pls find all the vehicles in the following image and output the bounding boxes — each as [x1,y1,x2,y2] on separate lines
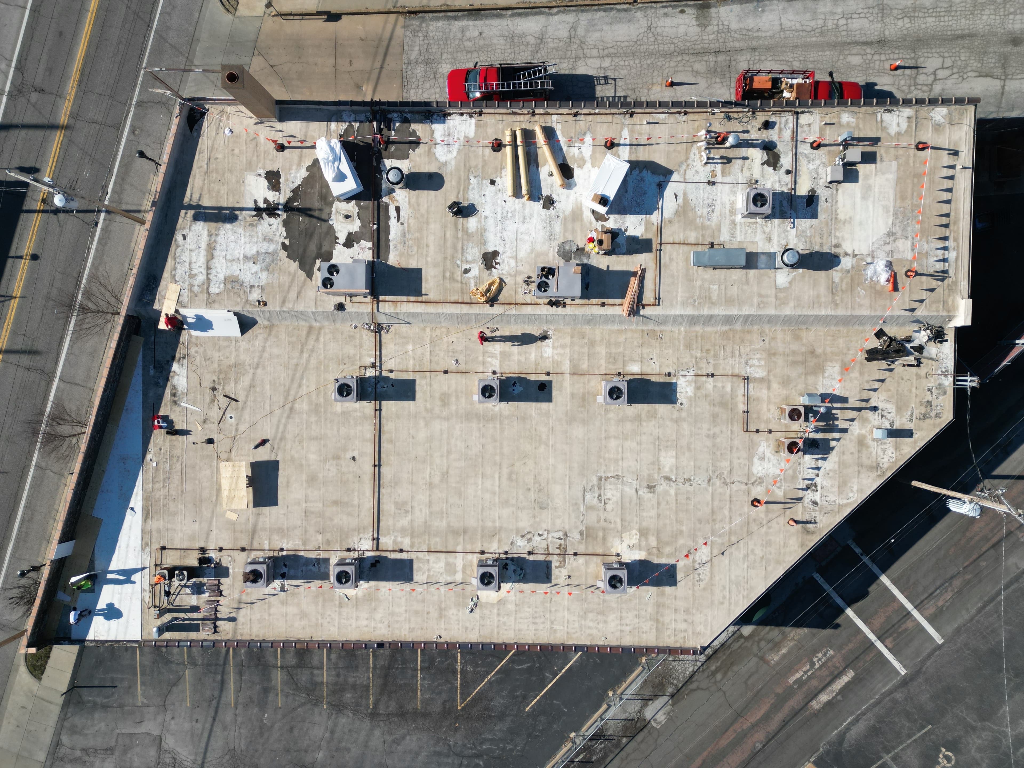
[731,68,862,97]
[447,61,551,98]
